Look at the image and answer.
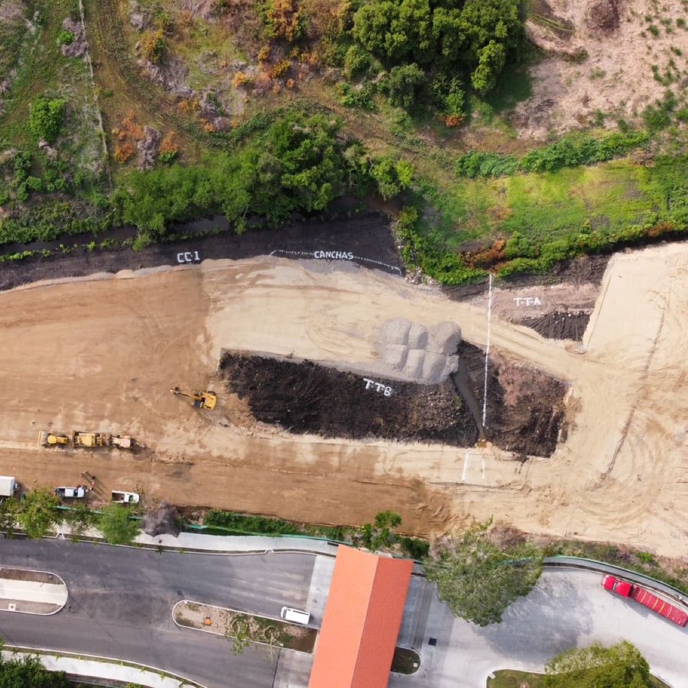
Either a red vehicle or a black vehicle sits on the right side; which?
red vehicle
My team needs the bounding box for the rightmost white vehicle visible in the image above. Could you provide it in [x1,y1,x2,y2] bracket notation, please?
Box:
[280,605,310,626]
